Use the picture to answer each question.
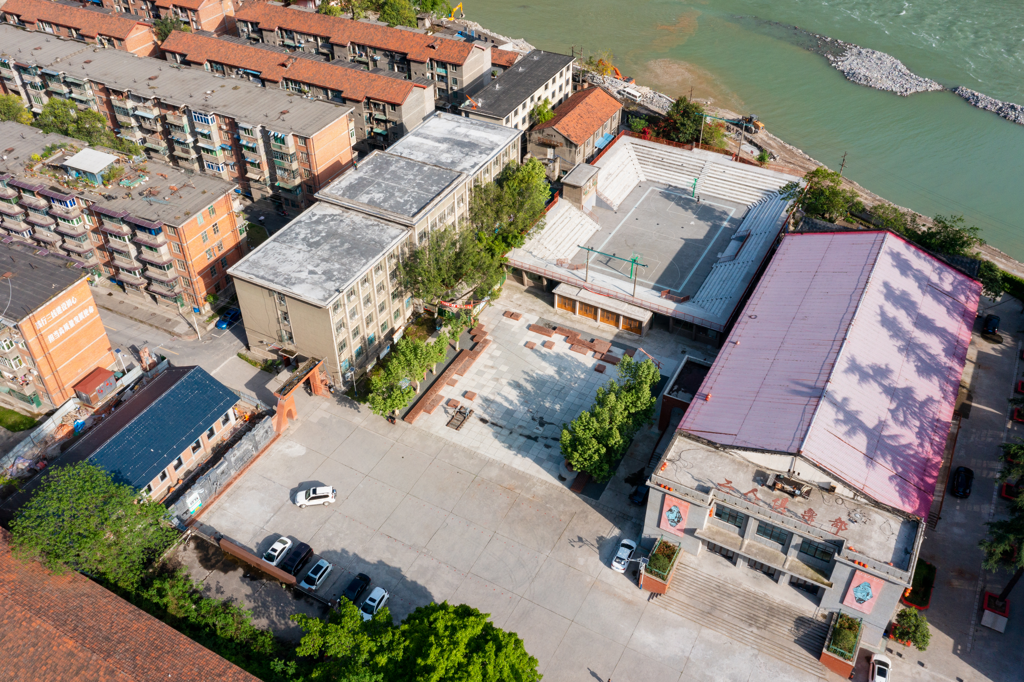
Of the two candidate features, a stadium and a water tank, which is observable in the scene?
stadium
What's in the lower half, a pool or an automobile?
automobile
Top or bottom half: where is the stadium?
top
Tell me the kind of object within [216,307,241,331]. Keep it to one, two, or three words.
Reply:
car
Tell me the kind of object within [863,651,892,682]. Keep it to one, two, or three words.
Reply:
car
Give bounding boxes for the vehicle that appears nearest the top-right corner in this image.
[734,115,769,136]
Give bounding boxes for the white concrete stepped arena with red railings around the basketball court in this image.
[503,131,810,346]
